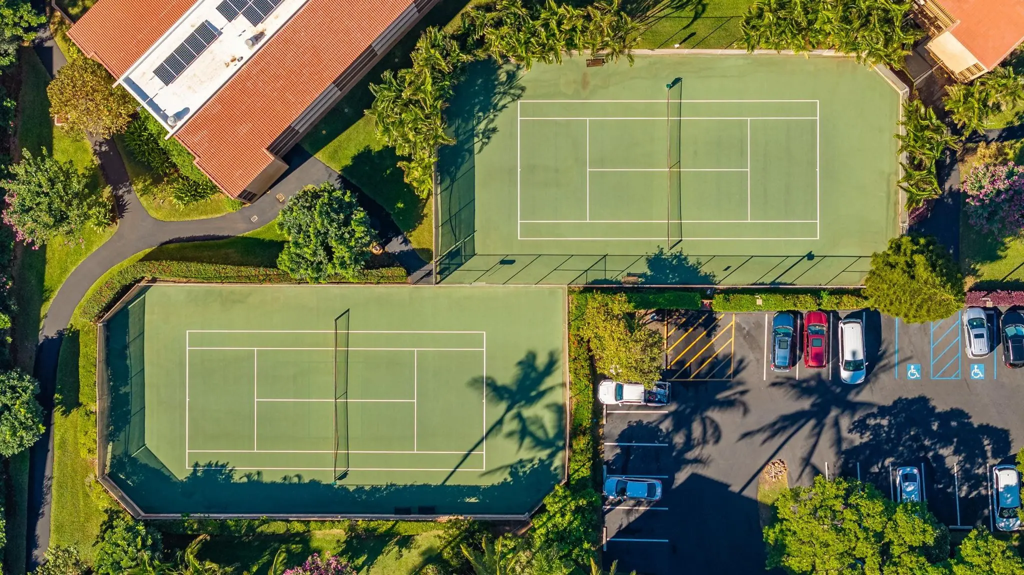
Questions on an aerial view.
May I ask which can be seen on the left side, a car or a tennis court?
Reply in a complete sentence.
What appears on the left side is a tennis court.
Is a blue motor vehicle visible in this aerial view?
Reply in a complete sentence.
Yes, a blue motor vehicle appears in the view.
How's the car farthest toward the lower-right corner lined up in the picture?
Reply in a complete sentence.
The car farthest toward the lower-right corner is oriented vertically.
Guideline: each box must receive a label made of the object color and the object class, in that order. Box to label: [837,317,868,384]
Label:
white car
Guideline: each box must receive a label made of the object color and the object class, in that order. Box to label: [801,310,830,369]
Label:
red car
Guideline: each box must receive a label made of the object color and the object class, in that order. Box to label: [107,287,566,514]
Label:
green tennis court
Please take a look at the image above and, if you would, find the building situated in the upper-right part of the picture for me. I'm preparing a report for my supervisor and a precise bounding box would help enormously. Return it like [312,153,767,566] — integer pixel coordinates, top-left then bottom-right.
[890,0,1024,95]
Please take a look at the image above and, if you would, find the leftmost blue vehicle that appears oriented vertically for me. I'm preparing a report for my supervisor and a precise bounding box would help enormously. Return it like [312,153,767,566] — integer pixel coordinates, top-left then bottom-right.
[769,311,798,372]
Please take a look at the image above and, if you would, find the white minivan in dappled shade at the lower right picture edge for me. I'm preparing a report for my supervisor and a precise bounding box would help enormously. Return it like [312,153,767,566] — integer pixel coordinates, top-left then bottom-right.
[991,464,1023,531]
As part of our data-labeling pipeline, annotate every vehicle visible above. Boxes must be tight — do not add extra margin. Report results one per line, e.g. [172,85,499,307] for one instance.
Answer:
[998,308,1024,371]
[598,378,671,408]
[801,310,830,369]
[837,317,868,384]
[991,464,1023,531]
[895,464,925,522]
[960,305,990,360]
[602,475,662,502]
[769,311,798,372]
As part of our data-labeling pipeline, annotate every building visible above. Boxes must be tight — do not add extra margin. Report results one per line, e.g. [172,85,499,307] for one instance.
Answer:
[63,0,440,204]
[890,0,1024,95]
